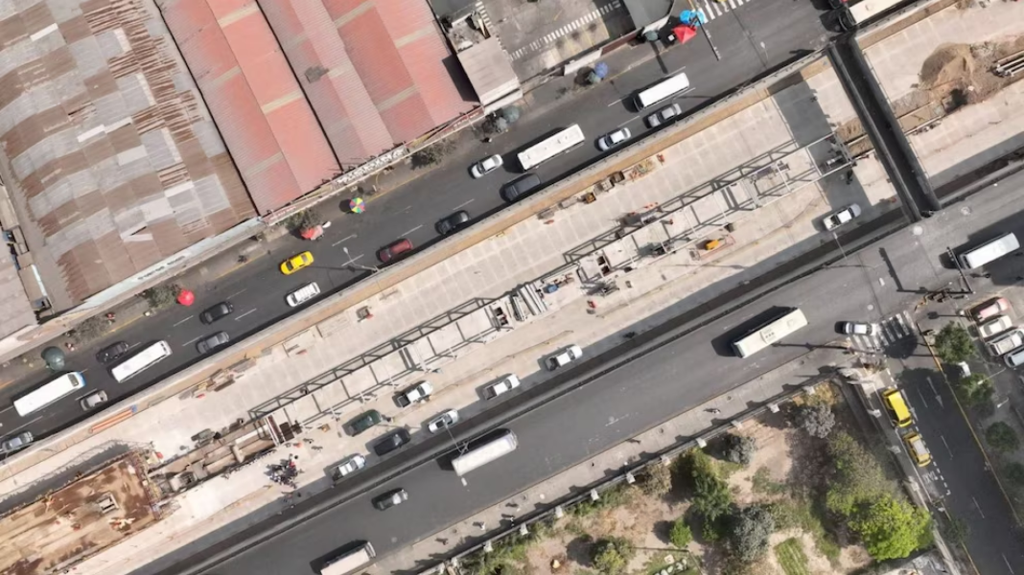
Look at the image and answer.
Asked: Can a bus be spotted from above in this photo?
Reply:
Yes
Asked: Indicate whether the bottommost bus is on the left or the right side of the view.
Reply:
left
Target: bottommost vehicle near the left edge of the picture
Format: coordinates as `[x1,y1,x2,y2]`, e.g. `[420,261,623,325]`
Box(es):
[0,428,35,454]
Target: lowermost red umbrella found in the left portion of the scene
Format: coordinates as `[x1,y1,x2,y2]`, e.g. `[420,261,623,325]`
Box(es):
[179,288,197,306]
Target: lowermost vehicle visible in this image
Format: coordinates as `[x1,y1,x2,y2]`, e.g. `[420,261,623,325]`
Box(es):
[304,539,382,575]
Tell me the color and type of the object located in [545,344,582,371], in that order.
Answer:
white truck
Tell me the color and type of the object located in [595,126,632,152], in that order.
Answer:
white car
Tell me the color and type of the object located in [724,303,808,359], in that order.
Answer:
white bus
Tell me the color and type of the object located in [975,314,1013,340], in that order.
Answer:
white car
